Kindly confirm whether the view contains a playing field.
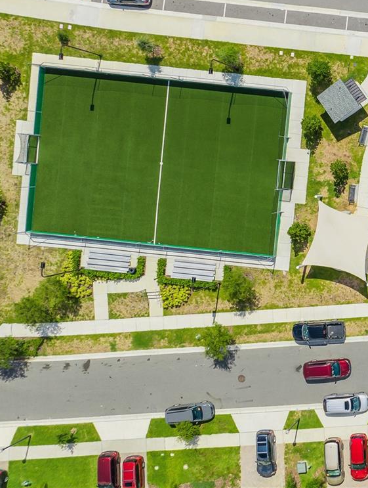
Yes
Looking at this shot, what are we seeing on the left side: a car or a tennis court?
car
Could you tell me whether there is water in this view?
No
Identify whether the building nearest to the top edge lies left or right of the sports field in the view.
right of it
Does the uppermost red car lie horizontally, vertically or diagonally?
horizontally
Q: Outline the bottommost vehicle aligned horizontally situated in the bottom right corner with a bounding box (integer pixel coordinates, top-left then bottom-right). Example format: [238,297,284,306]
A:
[324,392,368,414]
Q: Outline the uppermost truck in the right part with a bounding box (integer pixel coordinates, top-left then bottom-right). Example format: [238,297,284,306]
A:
[293,323,349,345]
